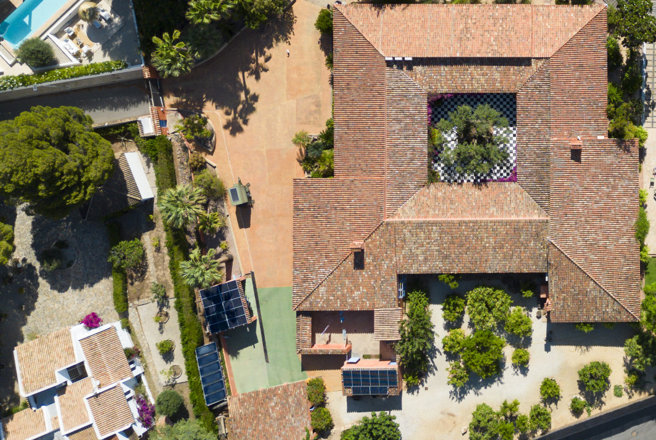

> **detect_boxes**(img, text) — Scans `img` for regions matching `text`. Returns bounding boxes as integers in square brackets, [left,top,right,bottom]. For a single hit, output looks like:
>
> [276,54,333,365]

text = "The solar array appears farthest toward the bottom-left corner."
[196,340,233,404]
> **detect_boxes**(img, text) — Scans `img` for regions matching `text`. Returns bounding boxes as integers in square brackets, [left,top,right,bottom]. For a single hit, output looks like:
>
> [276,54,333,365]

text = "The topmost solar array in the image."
[200,281,247,333]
